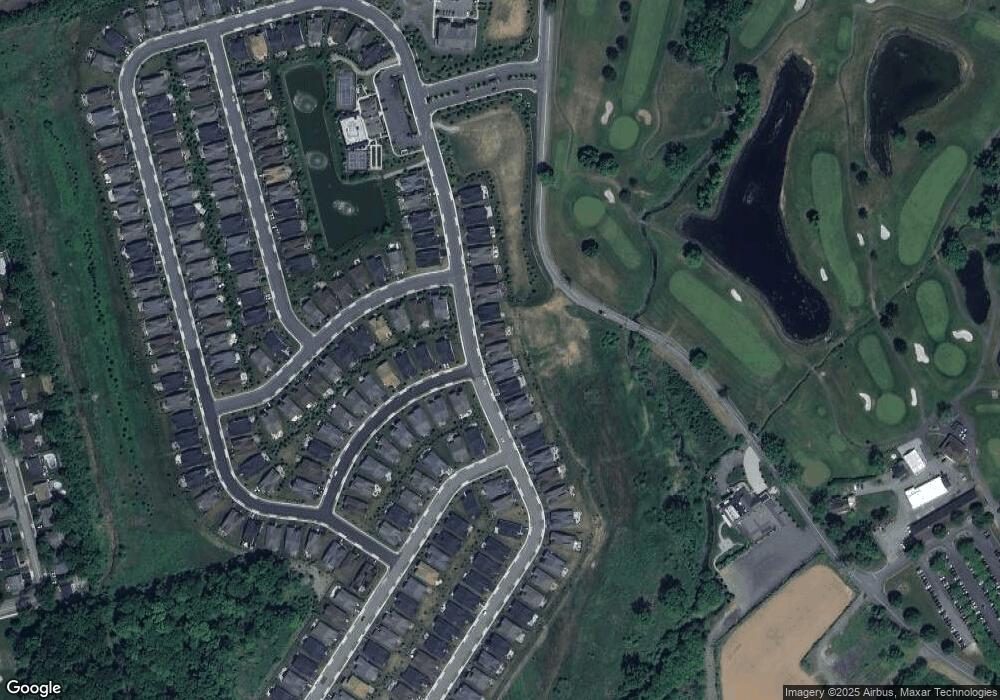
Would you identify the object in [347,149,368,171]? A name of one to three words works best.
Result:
sports court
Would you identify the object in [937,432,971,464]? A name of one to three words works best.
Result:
building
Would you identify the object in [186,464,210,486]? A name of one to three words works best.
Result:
house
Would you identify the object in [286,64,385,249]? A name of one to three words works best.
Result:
pond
